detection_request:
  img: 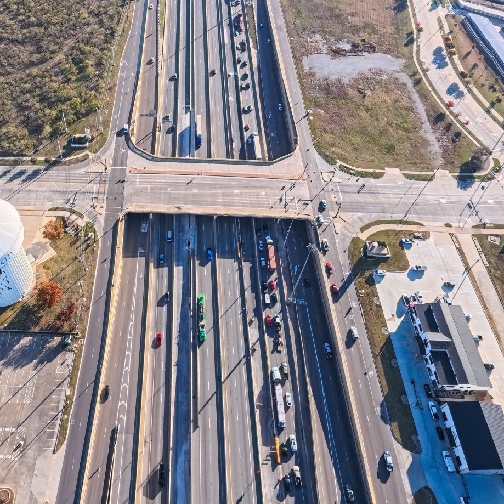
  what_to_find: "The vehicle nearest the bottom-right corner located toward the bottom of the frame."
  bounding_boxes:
[443,454,456,470]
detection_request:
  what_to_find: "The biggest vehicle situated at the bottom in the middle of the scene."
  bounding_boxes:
[272,370,287,424]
